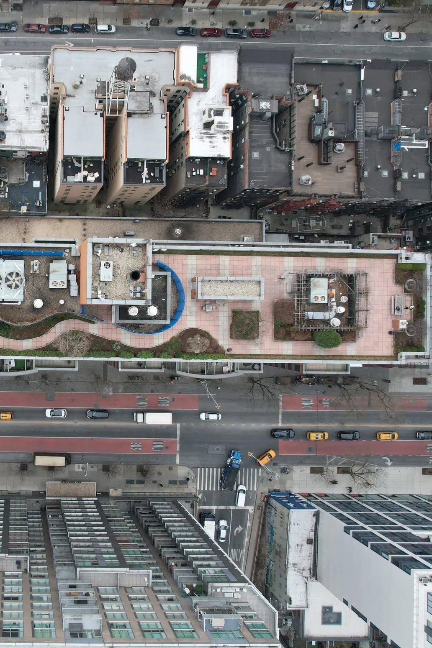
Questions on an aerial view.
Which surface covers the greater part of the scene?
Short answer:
buildings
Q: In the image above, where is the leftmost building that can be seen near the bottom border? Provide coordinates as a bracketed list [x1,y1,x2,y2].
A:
[0,477,280,648]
